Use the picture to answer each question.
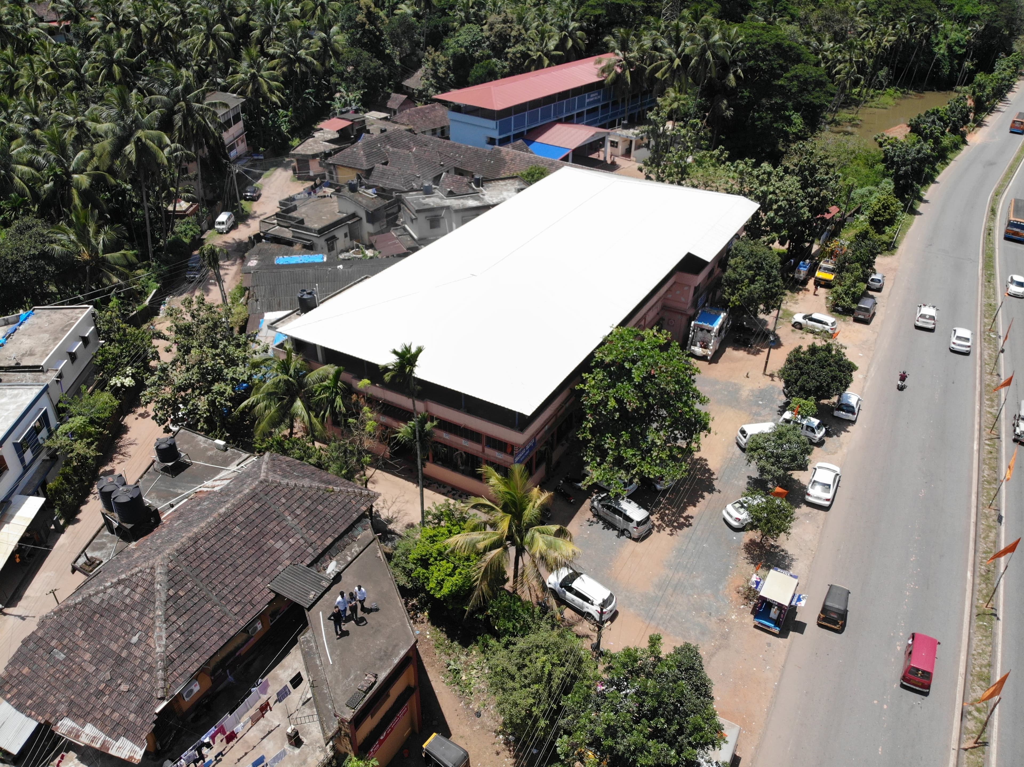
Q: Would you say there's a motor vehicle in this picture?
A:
Yes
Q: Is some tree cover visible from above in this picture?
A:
Yes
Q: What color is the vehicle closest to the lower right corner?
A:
red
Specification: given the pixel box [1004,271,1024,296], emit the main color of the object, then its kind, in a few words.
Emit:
white car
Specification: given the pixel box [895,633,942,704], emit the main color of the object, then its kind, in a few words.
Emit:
red vehicle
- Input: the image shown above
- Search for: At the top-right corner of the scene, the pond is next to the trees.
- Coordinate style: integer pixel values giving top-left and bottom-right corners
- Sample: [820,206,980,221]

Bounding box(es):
[826,88,964,154]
